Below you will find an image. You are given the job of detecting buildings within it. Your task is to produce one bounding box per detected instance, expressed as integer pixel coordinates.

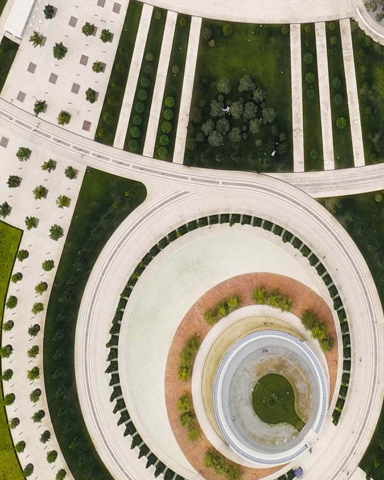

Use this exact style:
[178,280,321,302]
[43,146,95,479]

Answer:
[212,326,330,465]
[3,0,40,44]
